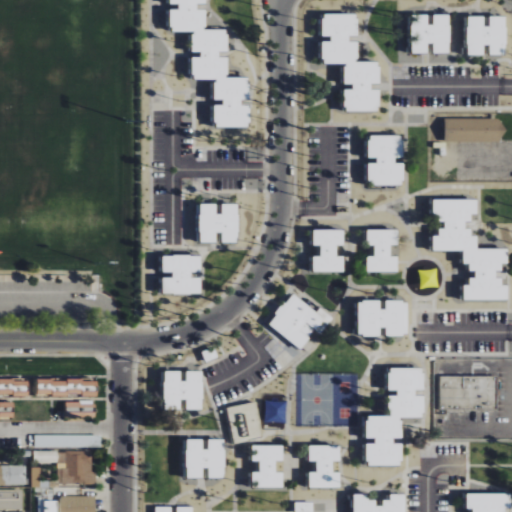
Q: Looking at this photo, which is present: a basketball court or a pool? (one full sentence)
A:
I can see a basketball court in this picture.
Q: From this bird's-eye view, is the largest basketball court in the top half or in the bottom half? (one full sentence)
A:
You can find the largest basketball court in the bottom half.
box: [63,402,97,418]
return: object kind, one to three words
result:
house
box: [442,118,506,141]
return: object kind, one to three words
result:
building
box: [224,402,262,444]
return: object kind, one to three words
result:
building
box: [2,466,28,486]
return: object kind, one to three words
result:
house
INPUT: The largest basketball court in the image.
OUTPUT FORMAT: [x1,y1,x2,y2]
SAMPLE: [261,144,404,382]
[296,374,358,426]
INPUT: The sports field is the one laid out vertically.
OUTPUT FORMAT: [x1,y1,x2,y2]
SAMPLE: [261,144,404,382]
[0,0,141,330]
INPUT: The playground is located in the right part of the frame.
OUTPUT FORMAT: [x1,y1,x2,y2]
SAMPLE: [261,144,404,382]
[406,260,442,296]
